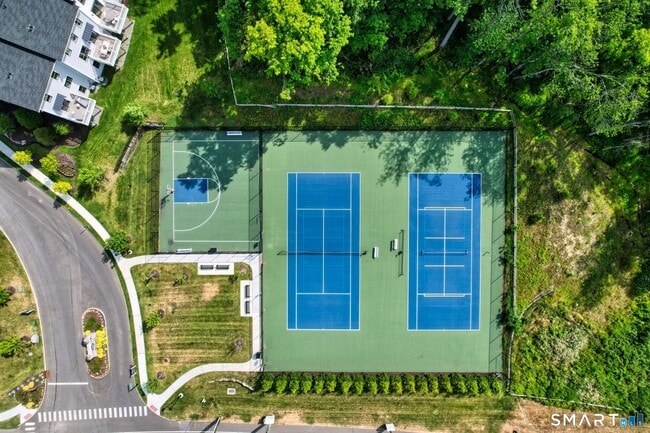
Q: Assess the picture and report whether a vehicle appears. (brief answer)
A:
No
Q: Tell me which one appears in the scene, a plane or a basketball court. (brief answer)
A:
basketball court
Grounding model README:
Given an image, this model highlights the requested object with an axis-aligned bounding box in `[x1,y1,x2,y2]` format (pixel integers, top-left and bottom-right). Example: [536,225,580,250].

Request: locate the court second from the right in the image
[262,130,384,372]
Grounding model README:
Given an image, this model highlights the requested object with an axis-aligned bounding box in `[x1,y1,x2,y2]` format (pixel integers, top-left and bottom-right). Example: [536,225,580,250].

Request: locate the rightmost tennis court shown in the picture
[384,130,506,373]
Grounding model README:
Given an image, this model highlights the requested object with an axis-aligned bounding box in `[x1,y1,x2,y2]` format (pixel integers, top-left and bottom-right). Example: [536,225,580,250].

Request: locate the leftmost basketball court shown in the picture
[160,130,262,253]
